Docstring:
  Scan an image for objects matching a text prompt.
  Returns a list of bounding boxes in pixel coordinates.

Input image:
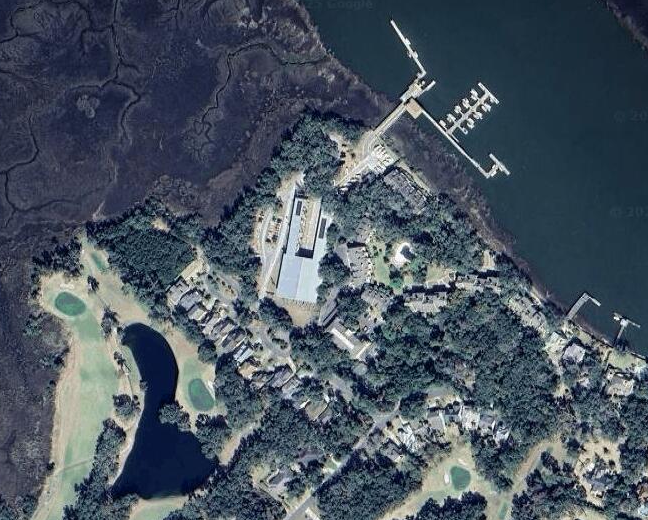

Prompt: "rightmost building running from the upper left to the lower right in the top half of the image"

[385,168,432,206]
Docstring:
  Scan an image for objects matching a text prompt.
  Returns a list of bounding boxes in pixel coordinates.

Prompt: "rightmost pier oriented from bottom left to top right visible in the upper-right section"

[445,82,499,142]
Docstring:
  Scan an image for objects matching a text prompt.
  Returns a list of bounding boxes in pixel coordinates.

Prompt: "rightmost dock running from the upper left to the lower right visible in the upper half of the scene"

[421,107,509,177]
